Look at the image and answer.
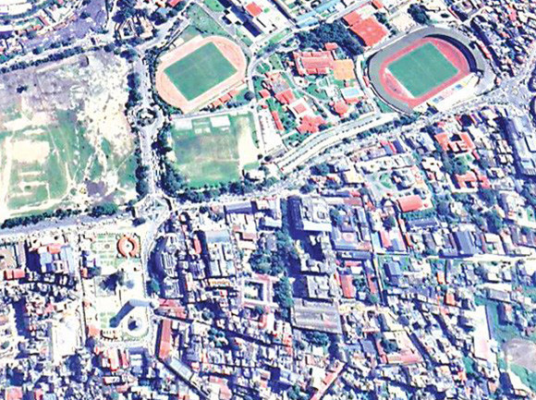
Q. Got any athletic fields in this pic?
Yes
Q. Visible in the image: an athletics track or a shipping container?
athletics track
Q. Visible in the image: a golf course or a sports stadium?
sports stadium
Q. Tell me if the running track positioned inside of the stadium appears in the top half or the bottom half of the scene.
top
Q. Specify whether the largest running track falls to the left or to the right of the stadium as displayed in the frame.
left of it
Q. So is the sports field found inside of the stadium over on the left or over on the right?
right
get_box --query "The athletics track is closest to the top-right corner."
[376,35,469,104]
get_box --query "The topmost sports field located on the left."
[165,40,237,100]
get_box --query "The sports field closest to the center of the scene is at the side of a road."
[171,112,260,188]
